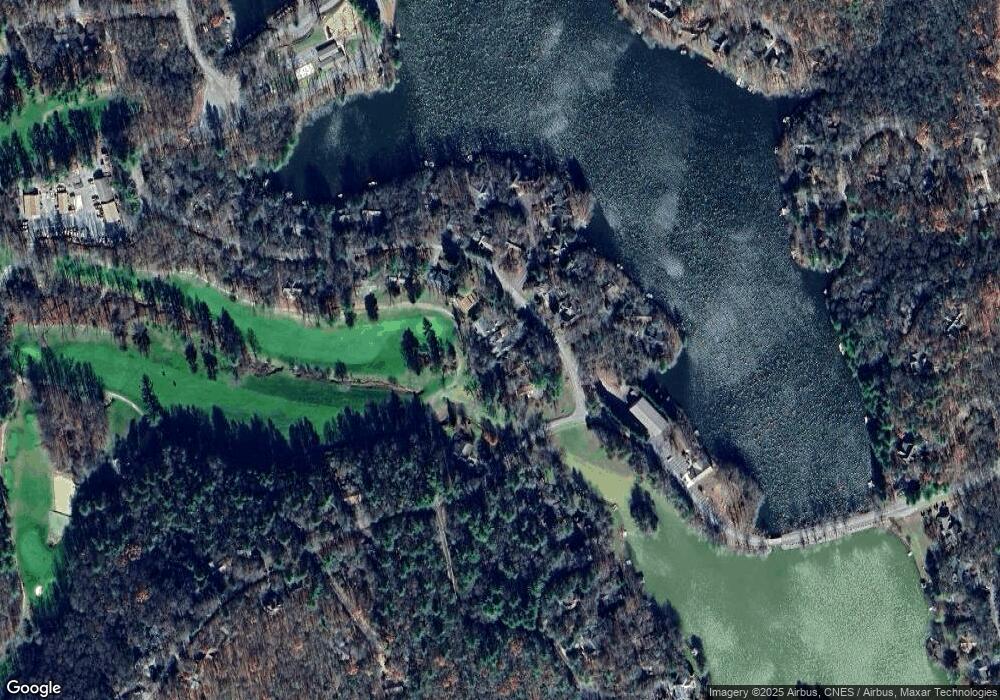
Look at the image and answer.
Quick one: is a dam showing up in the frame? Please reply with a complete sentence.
Yes, a dam can be made out from above.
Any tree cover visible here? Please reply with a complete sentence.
Yes, tree cover can be seen from above here.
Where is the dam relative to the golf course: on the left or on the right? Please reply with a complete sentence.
From the viewer's perspective, the dam falls to the right of the golf course.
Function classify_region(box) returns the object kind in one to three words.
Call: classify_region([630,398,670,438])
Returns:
building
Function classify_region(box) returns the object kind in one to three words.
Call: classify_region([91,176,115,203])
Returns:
building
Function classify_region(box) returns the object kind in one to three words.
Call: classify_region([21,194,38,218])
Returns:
shed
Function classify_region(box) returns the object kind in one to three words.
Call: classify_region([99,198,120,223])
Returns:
shed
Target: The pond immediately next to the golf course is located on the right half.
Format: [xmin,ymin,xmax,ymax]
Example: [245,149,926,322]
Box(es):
[562,446,957,700]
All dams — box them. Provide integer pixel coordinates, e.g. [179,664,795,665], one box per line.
[739,507,893,556]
